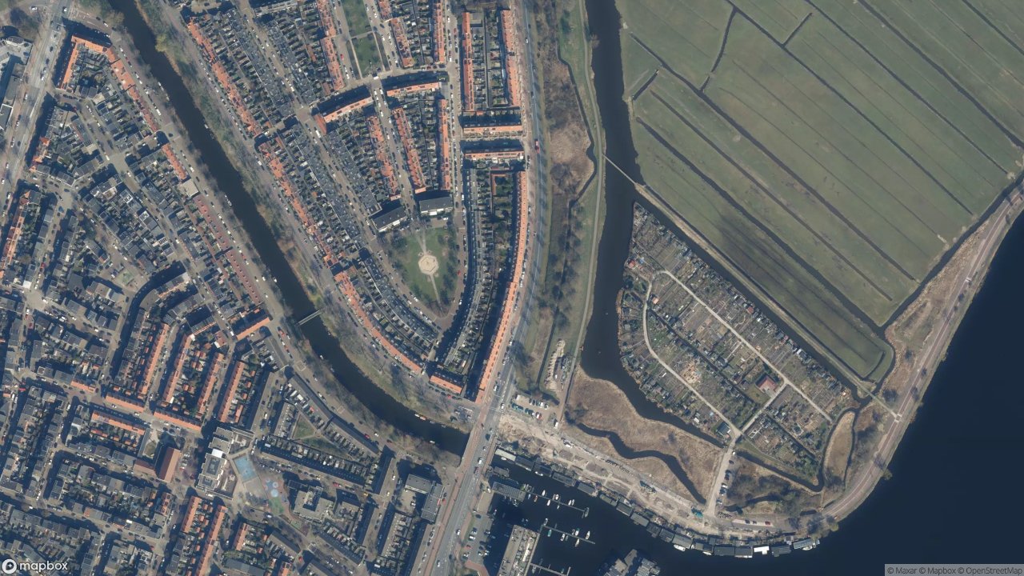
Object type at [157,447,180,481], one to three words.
building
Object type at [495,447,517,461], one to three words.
boat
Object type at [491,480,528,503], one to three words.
boat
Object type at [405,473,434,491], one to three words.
building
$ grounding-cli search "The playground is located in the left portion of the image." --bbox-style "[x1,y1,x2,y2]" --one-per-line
[262,474,307,534]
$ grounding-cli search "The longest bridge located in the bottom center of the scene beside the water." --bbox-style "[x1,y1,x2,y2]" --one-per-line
[453,424,499,487]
